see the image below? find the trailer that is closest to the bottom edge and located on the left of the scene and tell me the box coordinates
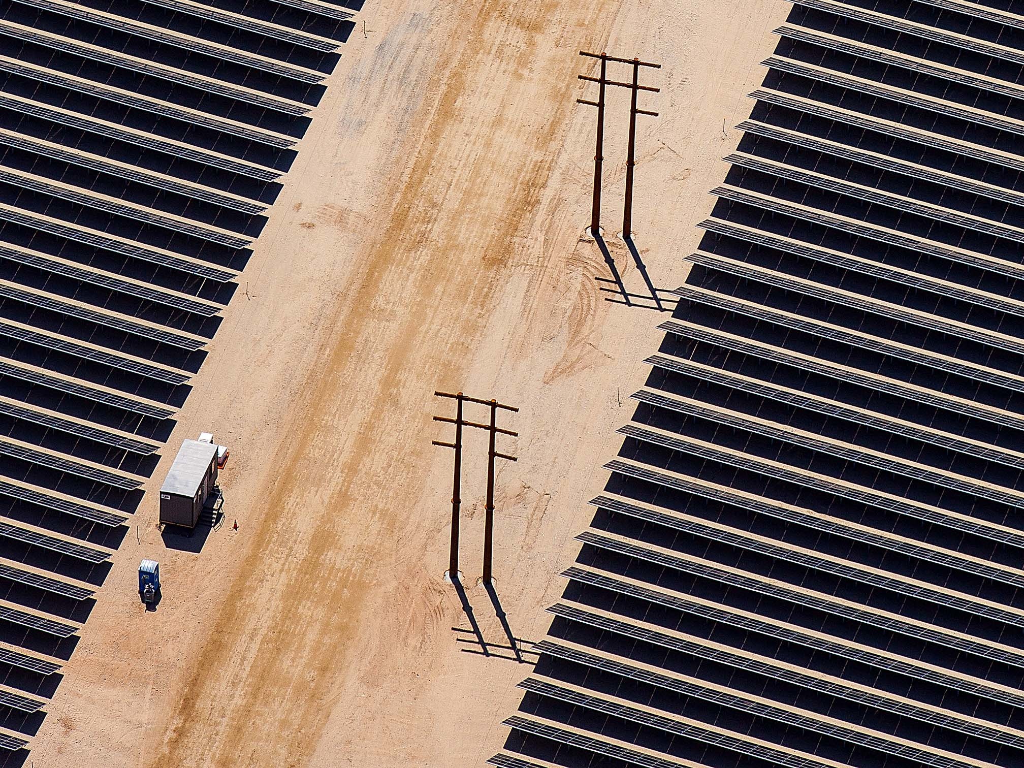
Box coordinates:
[159,439,219,534]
